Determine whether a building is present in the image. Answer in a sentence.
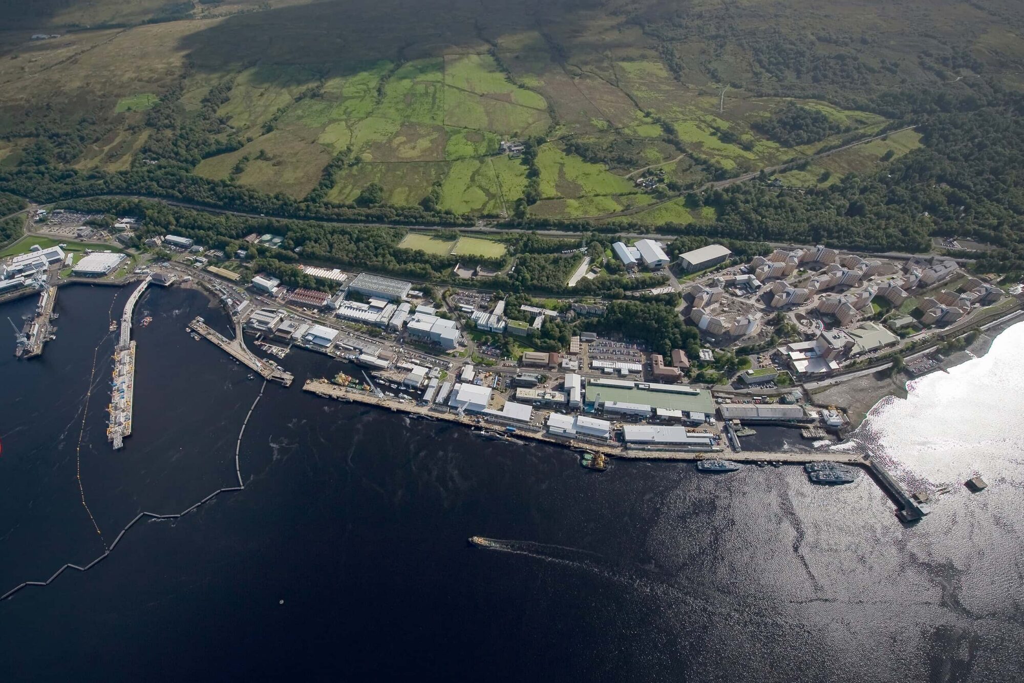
Yes, there is a building in the image.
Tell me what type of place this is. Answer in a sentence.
The picture captures a port.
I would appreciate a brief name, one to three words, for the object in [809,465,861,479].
ship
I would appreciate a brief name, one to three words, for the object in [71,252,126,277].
building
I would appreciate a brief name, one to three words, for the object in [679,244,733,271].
building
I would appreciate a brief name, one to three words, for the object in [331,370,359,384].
ship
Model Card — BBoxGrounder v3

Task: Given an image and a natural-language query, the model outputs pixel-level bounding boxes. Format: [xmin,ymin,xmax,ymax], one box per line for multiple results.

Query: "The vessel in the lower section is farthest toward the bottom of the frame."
[468,533,491,546]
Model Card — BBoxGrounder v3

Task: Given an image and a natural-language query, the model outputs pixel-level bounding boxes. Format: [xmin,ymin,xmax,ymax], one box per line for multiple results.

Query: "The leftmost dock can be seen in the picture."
[24,286,58,359]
